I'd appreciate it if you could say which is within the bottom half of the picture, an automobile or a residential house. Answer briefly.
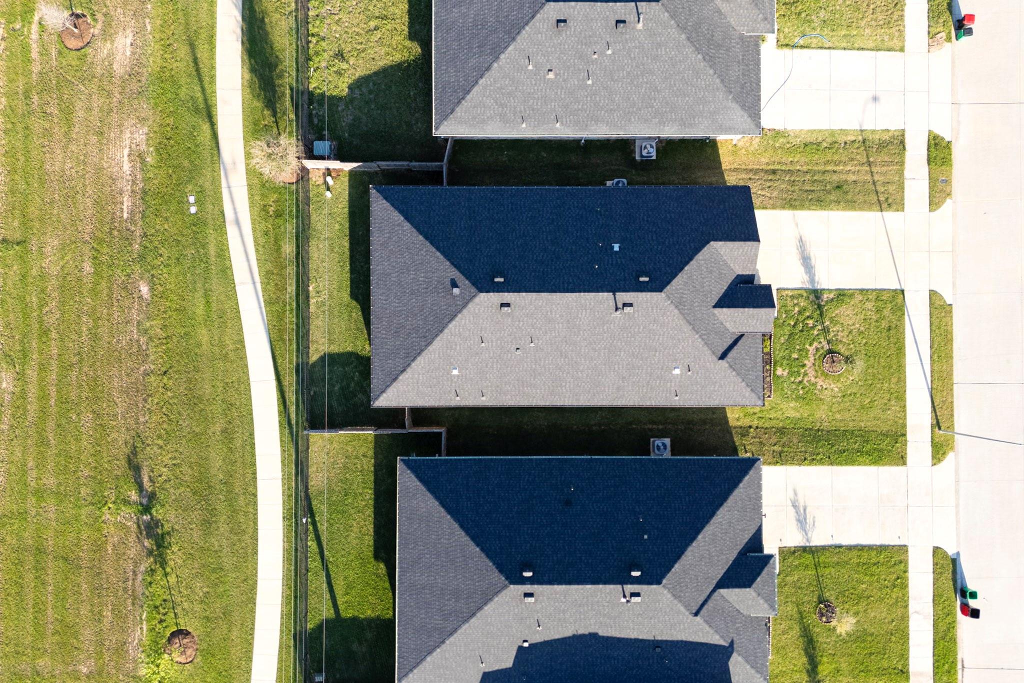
residential house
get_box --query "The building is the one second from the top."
[370,186,776,407]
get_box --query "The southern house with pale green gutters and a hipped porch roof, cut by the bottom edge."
[398,457,779,683]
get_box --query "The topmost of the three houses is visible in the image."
[433,0,775,146]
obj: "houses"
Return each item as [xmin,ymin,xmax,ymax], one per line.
[433,0,775,146]
[370,186,776,407]
[398,457,779,683]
